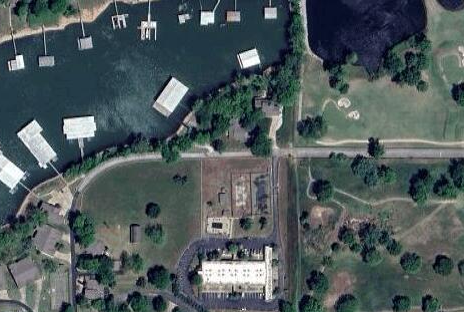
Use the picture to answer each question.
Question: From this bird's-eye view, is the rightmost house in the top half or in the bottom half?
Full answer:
It is in the top half that the rightmost house appears.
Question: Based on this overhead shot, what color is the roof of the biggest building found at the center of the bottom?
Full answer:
From above, the roof of the biggest building found at the center of the bottom looks white.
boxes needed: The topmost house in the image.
[258,99,282,118]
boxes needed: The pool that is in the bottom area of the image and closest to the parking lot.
[207,217,230,234]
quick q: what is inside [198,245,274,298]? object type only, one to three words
building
